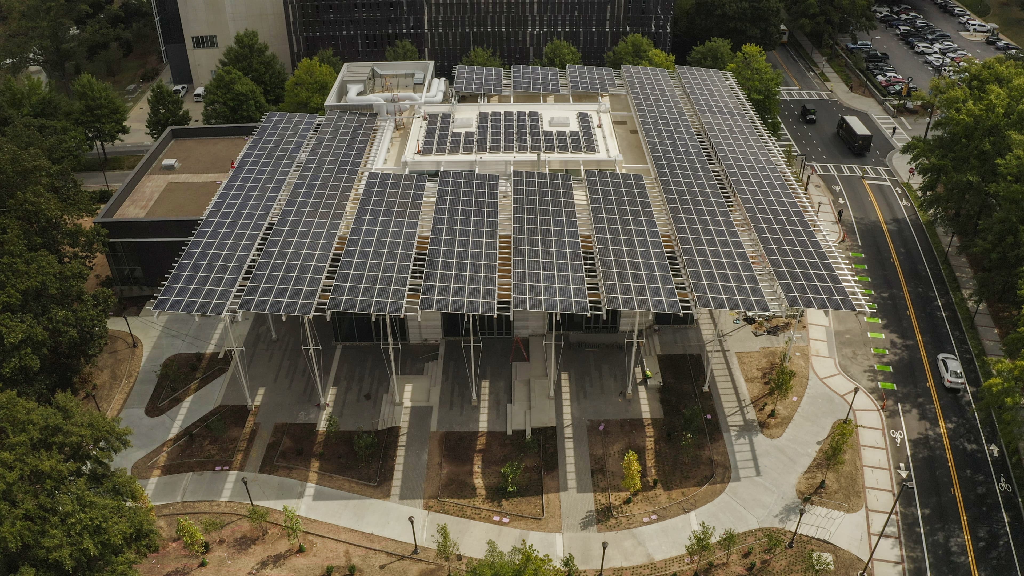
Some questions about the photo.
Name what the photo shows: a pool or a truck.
truck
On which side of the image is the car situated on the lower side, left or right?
right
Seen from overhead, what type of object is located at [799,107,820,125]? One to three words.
car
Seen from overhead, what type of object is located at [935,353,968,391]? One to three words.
car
